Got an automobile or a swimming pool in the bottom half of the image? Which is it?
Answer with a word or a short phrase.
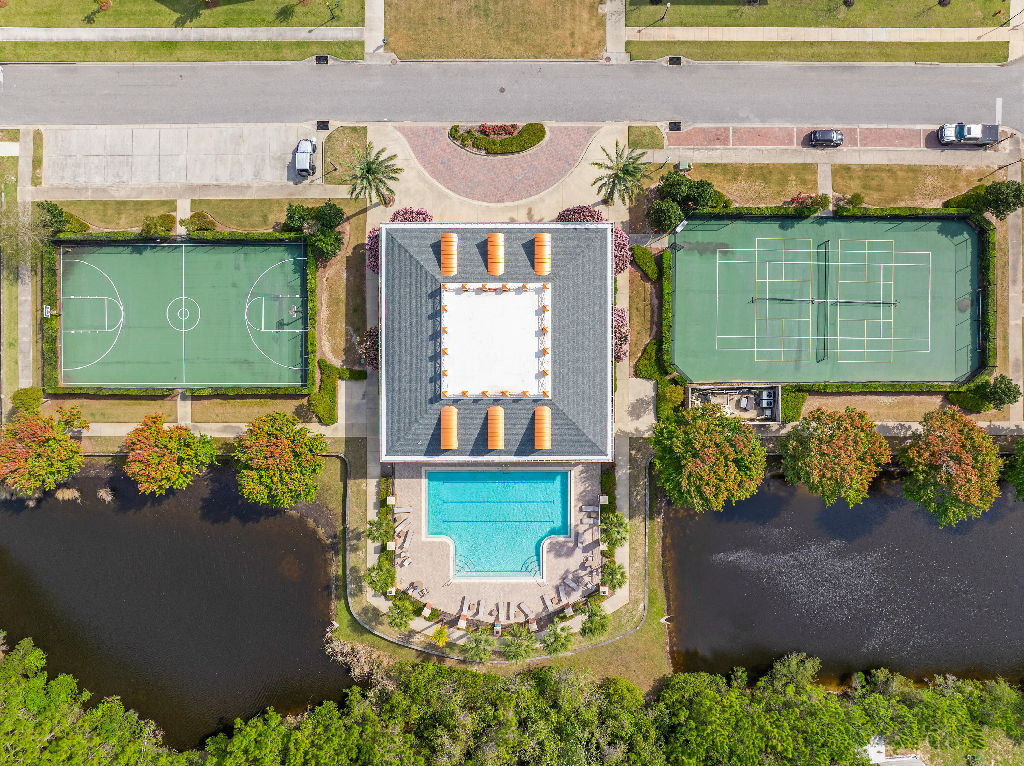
swimming pool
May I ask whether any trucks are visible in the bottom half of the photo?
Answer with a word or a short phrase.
No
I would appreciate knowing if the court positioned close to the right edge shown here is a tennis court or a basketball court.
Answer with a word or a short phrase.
tennis court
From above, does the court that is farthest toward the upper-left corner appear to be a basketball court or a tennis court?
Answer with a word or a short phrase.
basketball court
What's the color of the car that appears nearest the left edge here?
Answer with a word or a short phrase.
white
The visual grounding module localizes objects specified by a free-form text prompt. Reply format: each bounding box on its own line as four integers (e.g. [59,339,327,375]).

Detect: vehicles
[937,122,997,147]
[809,125,844,145]
[295,135,317,175]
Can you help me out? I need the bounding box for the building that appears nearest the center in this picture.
[380,222,613,463]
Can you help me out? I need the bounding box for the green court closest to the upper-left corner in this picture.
[57,241,308,388]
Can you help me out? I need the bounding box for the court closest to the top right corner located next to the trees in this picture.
[670,217,978,383]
